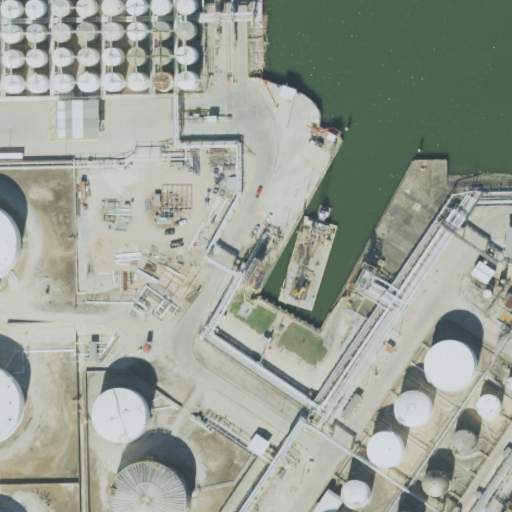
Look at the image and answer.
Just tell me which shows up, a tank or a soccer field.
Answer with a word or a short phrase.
tank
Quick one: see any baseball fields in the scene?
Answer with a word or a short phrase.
No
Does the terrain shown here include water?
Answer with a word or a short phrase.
Yes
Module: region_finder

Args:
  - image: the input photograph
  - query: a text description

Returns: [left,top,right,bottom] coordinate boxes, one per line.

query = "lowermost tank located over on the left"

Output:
[110,458,190,512]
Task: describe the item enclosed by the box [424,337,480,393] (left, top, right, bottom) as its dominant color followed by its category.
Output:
white storage tank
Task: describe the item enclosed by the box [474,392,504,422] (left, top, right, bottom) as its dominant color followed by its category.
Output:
white storage tank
